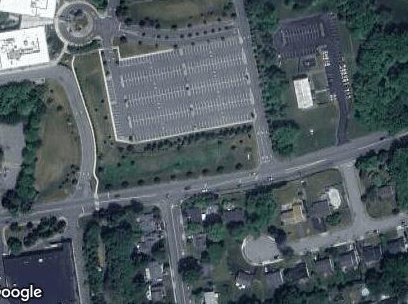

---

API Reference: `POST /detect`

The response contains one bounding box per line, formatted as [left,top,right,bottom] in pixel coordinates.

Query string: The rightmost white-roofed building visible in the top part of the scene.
[294,78,313,109]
